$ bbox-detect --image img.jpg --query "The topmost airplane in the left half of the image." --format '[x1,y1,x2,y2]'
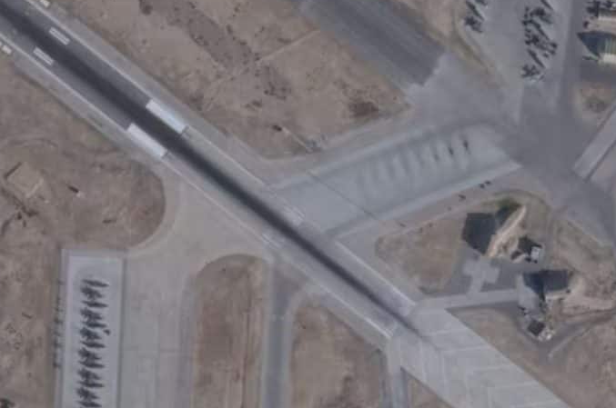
[86,285,106,300]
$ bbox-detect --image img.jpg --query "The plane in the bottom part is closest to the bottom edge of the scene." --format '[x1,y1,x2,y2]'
[81,388,101,404]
